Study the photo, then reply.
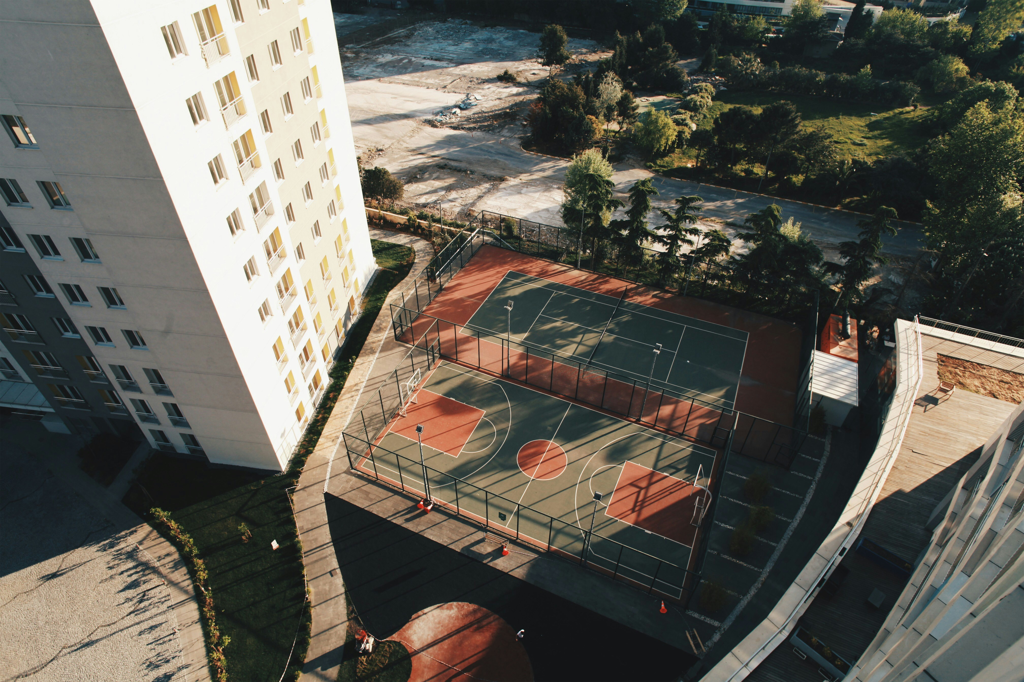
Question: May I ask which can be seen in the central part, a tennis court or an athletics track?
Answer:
tennis court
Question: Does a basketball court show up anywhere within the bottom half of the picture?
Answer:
Yes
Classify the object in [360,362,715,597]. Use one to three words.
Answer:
basketball court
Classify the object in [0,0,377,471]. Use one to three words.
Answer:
building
